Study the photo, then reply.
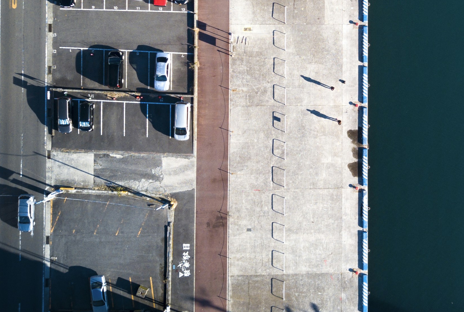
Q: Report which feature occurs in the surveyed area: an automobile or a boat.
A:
automobile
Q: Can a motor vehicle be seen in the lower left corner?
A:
Yes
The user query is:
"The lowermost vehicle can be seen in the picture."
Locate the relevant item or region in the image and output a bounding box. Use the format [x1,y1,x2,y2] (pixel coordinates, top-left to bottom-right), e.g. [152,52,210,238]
[89,277,108,312]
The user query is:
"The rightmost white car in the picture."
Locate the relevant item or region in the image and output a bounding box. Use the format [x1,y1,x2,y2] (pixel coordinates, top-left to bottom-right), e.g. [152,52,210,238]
[172,101,190,141]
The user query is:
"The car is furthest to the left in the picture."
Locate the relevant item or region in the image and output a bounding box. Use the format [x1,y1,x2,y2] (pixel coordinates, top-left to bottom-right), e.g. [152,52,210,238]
[13,194,34,234]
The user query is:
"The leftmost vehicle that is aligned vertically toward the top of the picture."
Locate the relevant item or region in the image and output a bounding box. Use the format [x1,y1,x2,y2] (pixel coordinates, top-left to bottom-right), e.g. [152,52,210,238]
[53,96,72,135]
